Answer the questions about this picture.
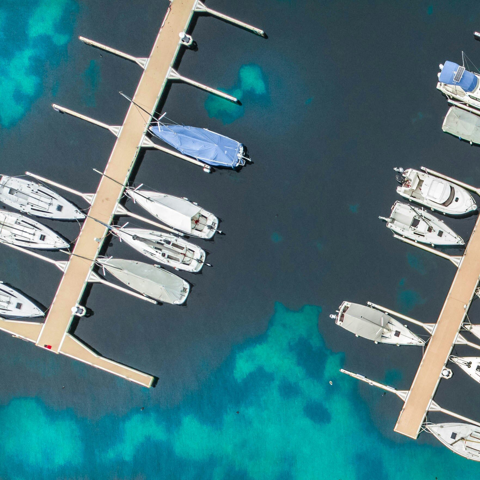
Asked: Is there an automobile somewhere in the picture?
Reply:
No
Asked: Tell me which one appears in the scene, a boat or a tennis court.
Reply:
boat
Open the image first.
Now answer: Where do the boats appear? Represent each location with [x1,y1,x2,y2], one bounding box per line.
[449,348,480,384]
[430,56,480,111]
[76,212,208,271]
[441,107,480,149]
[420,412,480,461]
[115,90,252,168]
[0,174,91,232]
[57,246,194,301]
[385,168,480,221]
[327,301,434,364]
[0,282,52,329]
[379,199,472,260]
[89,168,222,240]
[0,207,76,262]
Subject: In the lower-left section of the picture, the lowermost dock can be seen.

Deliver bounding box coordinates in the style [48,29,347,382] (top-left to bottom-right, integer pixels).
[58,333,155,387]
